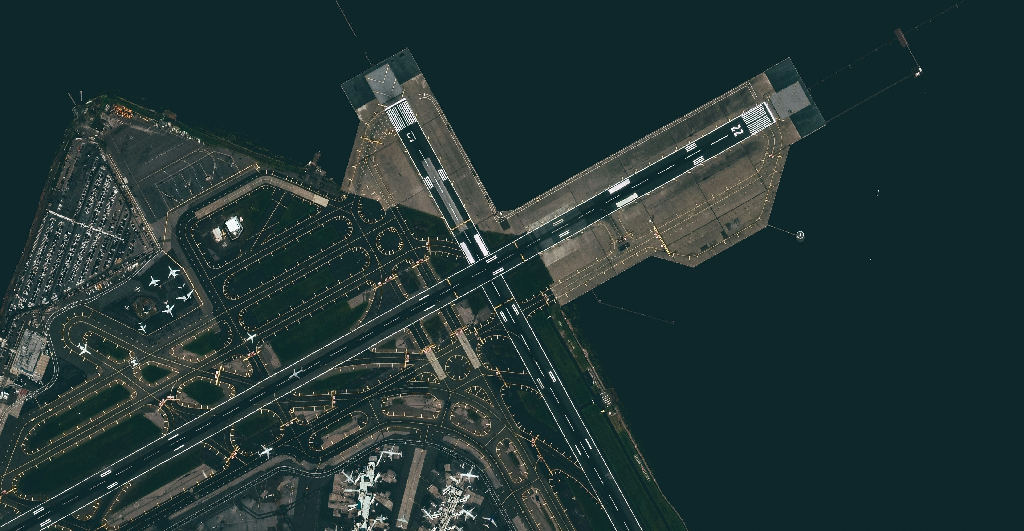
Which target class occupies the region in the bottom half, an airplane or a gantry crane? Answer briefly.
airplane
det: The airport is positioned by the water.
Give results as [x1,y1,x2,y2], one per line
[0,47,826,531]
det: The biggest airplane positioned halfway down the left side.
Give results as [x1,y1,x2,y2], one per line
[176,284,194,308]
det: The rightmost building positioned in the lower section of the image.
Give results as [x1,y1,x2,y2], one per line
[431,475,470,531]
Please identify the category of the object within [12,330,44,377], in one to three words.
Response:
building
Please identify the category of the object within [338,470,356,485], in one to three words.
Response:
airplane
